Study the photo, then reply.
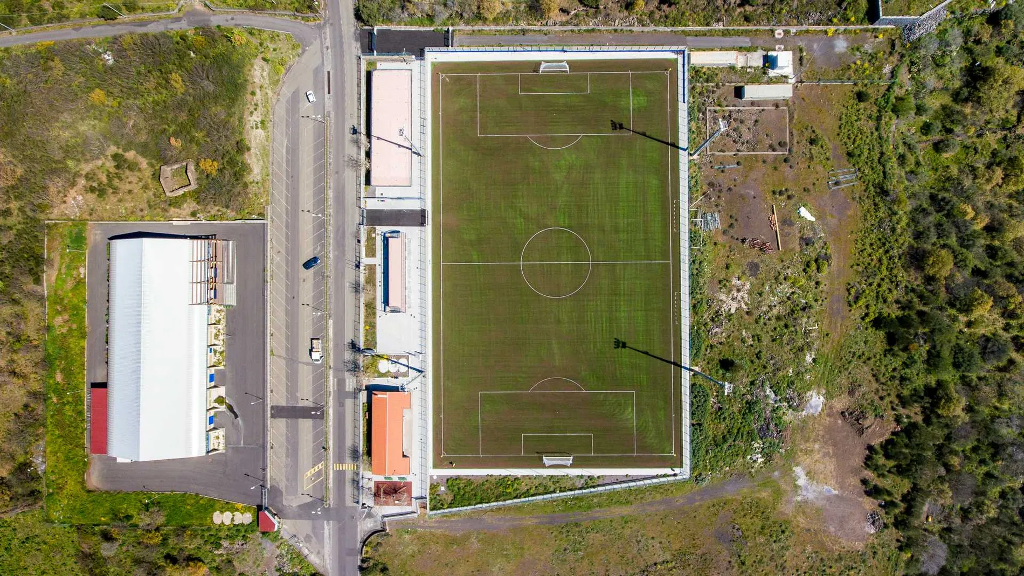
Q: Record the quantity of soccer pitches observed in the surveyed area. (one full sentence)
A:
The count comes to 1 soccer pitch.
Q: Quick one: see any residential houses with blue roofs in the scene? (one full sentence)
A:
No, no residential house with a blue roof is visible in the scene.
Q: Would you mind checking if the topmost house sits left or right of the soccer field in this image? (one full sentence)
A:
The topmost house appears to the right of the soccer field in this view.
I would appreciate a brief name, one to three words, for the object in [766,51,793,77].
house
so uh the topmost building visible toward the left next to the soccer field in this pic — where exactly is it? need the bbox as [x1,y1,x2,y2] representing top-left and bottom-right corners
[370,69,413,188]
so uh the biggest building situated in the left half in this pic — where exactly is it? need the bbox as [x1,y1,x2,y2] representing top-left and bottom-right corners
[85,238,237,462]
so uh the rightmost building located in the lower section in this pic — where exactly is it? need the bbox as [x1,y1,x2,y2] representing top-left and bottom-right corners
[372,391,412,476]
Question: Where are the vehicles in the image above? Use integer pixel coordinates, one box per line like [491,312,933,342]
[301,257,320,269]
[305,89,316,104]
[311,339,322,362]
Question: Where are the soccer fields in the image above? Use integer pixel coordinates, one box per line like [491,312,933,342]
[433,58,681,468]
